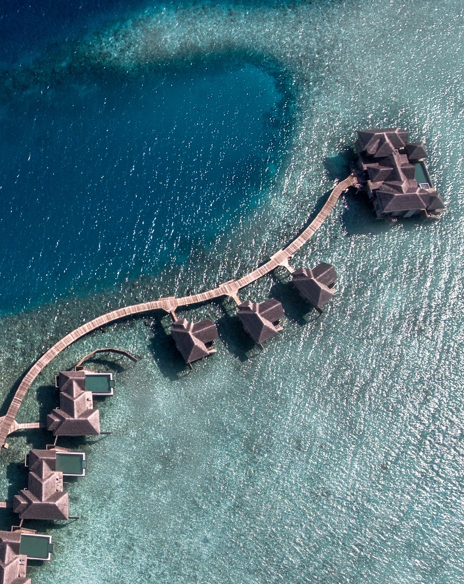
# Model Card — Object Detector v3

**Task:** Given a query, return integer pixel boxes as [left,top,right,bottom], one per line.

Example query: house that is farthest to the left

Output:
[165,318,219,377]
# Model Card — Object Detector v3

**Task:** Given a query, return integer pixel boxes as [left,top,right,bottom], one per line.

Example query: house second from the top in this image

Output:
[281,263,340,321]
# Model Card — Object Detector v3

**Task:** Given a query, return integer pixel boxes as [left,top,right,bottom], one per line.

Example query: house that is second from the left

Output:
[229,298,285,358]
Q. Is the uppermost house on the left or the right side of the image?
right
